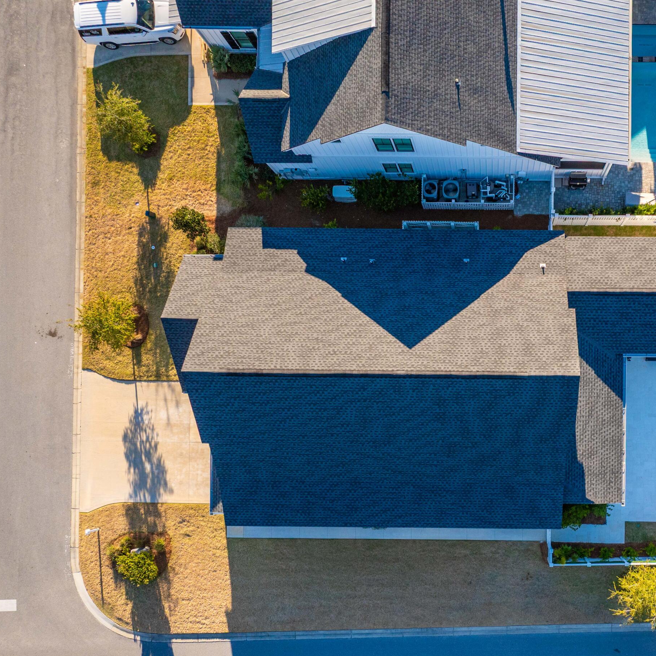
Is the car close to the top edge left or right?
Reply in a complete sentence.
The car close to the top edge sits on the left side.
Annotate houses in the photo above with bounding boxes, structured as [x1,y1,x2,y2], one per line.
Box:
[177,0,633,184]
[161,226,656,526]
